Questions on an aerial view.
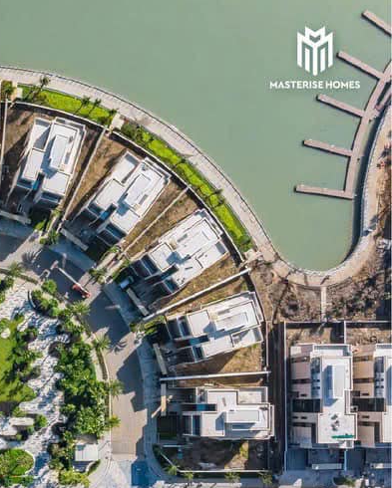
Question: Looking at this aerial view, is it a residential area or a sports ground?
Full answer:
It's a residential area.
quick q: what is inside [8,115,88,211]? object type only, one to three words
house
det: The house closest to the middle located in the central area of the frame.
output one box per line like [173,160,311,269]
[123,209,225,300]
